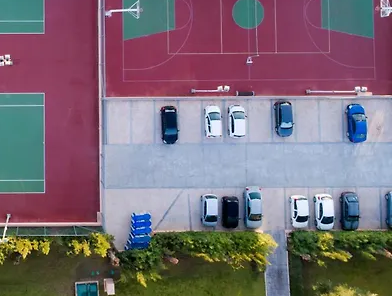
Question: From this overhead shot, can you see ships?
No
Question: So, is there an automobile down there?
Yes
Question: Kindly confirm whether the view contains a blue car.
Yes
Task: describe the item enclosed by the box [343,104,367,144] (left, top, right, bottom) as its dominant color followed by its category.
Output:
blue car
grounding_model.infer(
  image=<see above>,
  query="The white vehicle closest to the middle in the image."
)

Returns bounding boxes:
[202,105,222,138]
